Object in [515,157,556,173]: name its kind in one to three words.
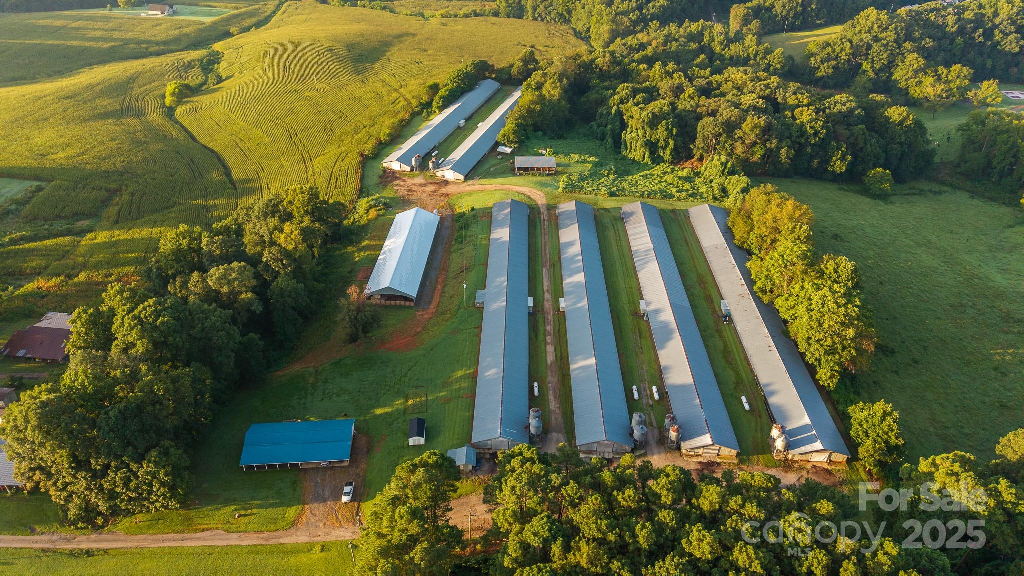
shed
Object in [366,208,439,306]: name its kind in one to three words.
barn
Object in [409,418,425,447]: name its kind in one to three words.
shed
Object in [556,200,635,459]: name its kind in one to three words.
house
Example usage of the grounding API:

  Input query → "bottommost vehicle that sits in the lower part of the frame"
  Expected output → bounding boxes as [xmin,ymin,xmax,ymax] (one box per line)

[339,480,356,503]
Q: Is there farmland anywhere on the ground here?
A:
Yes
